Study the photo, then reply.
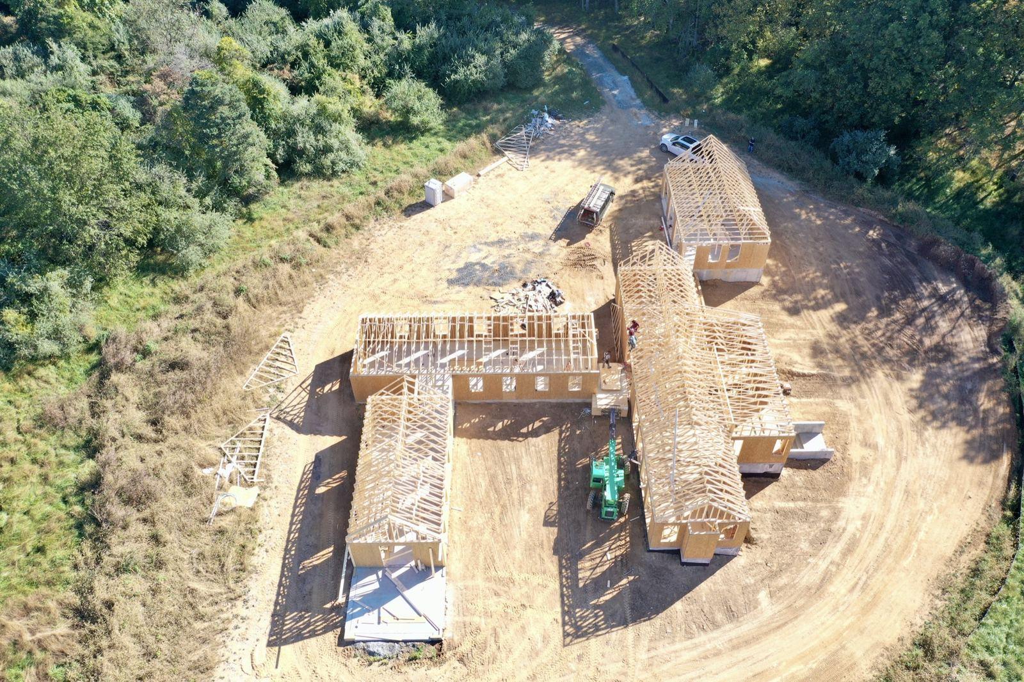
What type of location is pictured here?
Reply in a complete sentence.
The picture captures a residential area.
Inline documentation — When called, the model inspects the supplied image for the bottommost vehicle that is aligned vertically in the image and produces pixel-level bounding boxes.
[586,407,629,520]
